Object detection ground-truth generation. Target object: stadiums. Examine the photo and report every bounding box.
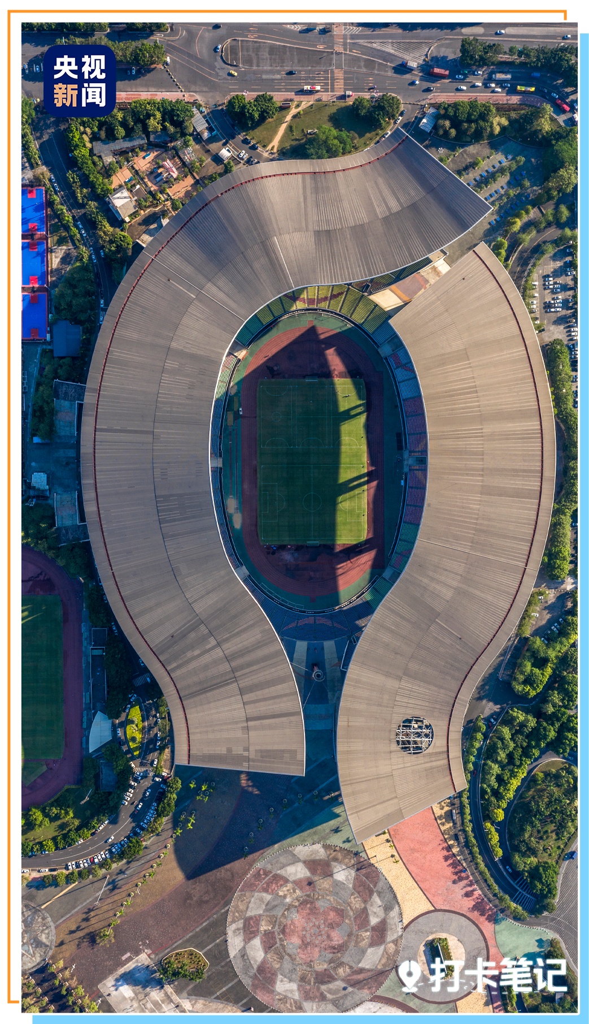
[80,127,556,844]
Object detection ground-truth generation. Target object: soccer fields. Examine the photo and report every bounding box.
[0,595,64,759]
[257,380,366,545]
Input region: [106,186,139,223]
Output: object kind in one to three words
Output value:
house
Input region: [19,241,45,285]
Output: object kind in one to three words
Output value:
basketball court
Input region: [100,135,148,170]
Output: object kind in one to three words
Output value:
shed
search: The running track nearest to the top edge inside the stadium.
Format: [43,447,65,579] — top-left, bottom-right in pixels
[226,320,384,602]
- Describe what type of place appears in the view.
sports ground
